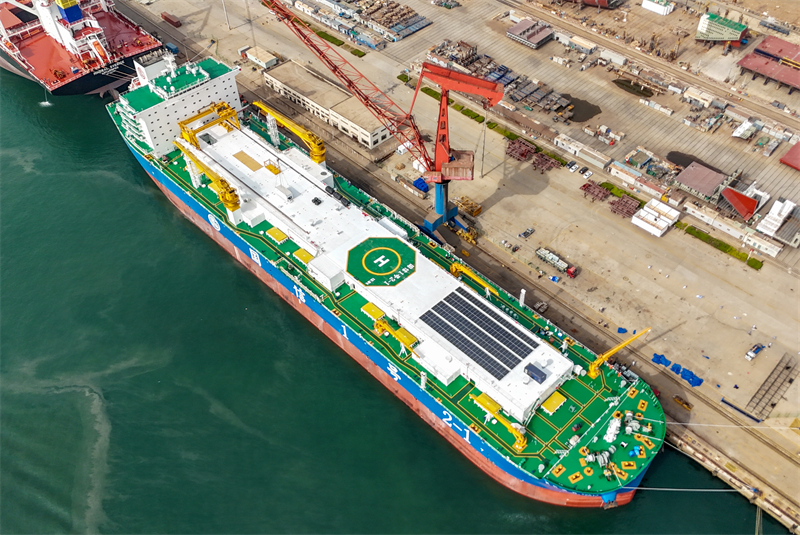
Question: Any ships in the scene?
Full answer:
Yes, the picture does show a ship.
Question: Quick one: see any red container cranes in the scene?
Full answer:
Yes, this view includes a red container crane.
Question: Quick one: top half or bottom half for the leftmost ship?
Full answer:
Seen from above, the leftmost ship lies in the top half of the view.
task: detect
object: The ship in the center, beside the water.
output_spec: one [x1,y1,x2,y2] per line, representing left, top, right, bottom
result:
[105,47,659,512]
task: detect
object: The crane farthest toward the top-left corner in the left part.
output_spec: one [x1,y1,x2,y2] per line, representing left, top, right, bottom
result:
[180,97,240,148]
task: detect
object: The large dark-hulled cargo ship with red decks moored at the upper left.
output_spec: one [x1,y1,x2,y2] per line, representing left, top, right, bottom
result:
[0,0,158,109]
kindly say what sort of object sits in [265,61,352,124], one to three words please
building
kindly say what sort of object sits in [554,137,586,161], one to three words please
building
